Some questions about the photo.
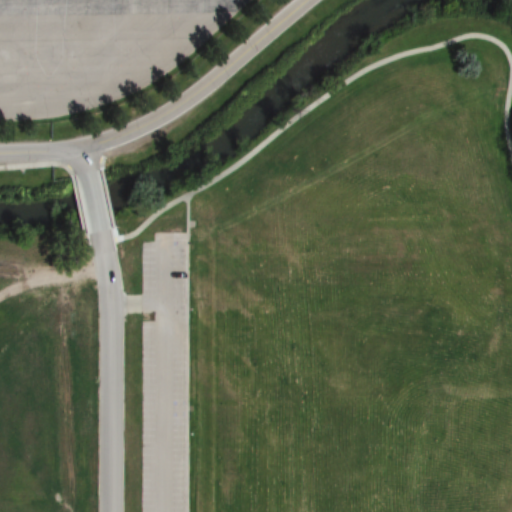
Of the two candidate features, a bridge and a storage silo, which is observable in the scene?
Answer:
bridge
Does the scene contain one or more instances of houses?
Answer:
No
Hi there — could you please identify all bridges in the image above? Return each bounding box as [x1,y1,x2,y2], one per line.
[73,168,116,234]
